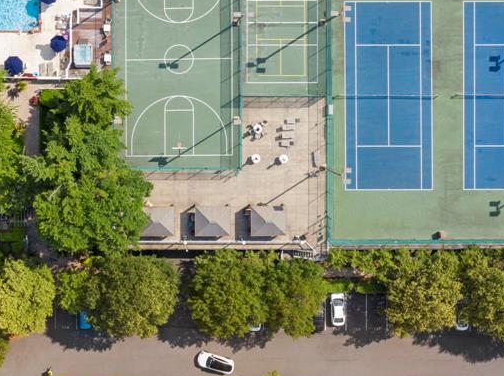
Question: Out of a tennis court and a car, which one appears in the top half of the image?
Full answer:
The one visible in the top half of the image is a tennis court.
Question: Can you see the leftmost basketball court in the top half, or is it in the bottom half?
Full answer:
You can find the leftmost basketball court in the top half.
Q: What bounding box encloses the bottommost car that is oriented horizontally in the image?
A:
[197,350,235,373]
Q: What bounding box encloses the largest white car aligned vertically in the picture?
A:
[329,292,347,330]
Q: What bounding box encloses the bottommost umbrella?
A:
[4,56,23,75]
